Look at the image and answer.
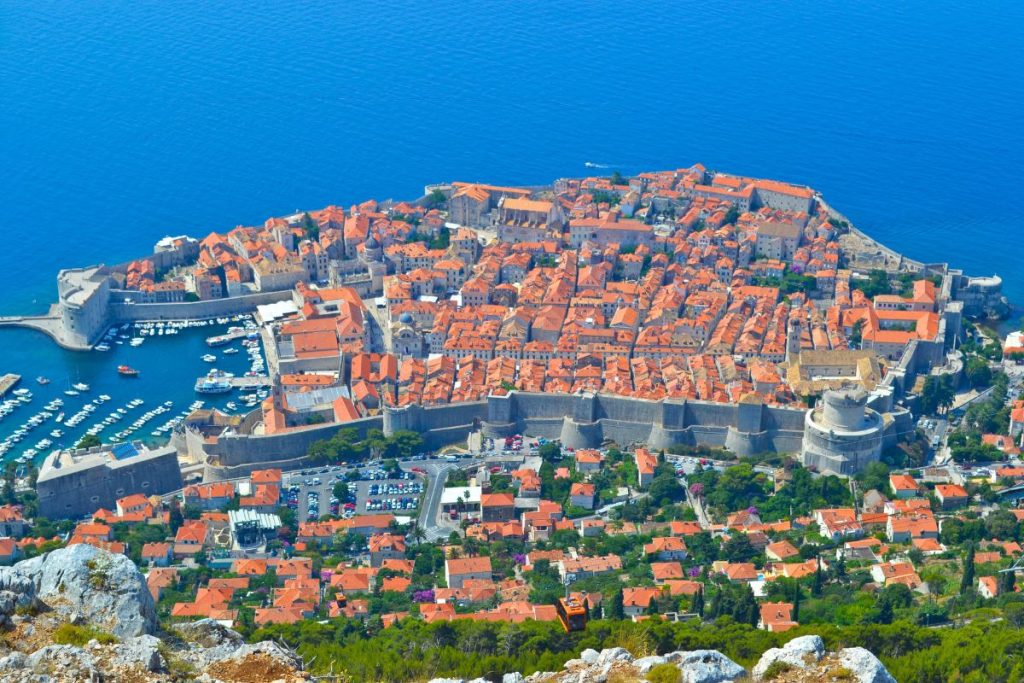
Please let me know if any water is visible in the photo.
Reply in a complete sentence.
Yes, water can be seen from above here.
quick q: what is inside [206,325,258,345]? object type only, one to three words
pier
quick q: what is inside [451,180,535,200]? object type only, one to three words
building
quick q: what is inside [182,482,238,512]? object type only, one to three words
house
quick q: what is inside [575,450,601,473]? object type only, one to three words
house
